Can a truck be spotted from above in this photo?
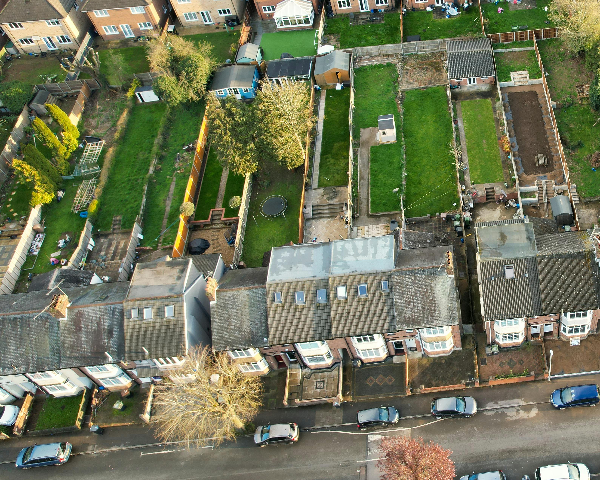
No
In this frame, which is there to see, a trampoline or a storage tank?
trampoline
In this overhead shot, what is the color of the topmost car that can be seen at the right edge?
blue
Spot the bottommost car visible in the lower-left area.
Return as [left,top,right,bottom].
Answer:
[13,442,78,473]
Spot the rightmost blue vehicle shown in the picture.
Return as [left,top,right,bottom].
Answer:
[550,384,600,413]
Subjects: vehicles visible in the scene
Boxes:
[458,471,507,480]
[252,423,302,451]
[533,461,591,480]
[13,442,78,473]
[0,403,19,428]
[431,393,478,424]
[356,404,400,434]
[550,384,600,413]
